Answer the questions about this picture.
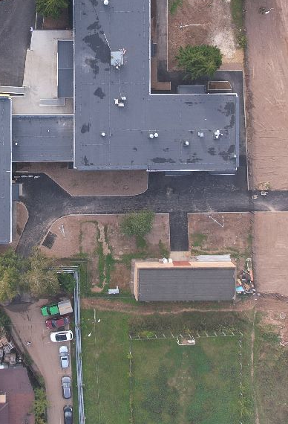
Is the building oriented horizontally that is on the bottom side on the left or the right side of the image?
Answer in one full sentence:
You can find the building oriented horizontally that is on the bottom side on the right side of the picture.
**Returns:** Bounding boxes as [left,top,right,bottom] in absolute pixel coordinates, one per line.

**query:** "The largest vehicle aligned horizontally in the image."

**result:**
[40,300,73,317]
